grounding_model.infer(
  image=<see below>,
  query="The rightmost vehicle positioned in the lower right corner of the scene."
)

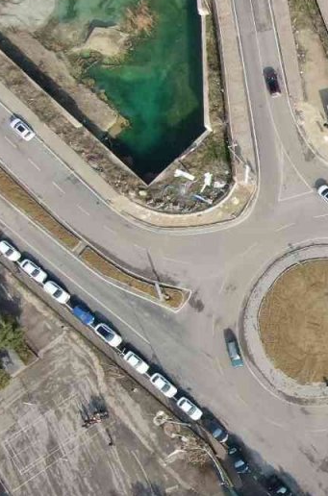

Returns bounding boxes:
[266,478,292,496]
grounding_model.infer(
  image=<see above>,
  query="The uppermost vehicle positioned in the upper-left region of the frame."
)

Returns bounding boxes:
[11,120,36,141]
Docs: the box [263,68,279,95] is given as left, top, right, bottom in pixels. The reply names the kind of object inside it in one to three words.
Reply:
car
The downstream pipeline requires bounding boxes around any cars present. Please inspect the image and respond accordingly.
[225,447,251,474]
[226,341,243,366]
[175,395,203,422]
[266,478,292,496]
[41,280,71,305]
[202,418,229,444]
[149,371,178,399]
[11,120,36,141]
[18,258,48,283]
[263,68,279,95]
[123,349,150,375]
[0,239,23,263]
[70,304,96,327]
[95,323,121,347]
